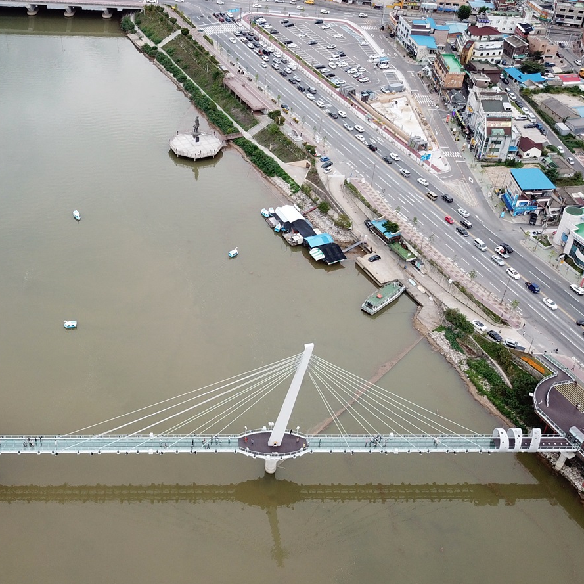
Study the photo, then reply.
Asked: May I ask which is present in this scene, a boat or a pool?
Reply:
boat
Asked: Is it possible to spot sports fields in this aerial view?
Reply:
No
